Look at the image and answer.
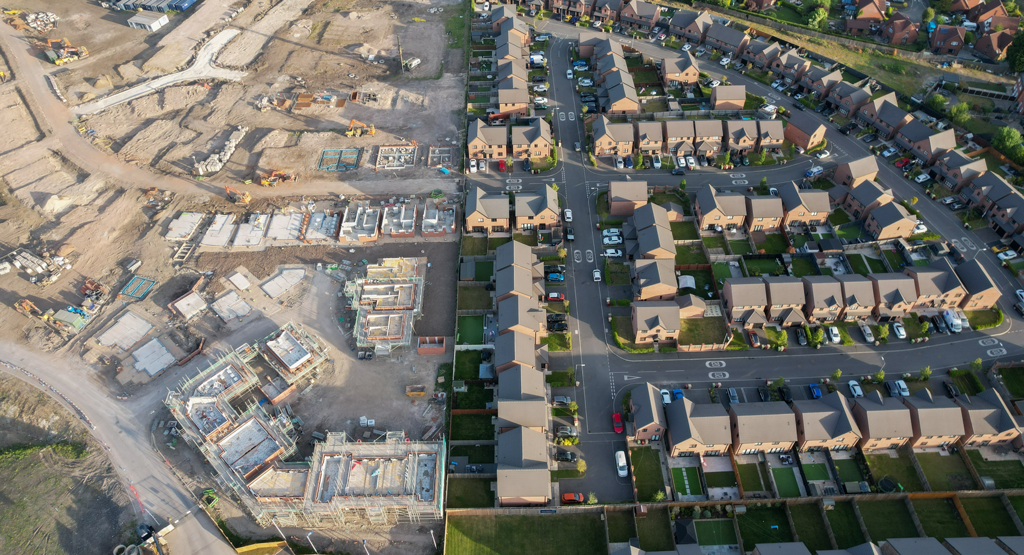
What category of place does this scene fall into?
residential area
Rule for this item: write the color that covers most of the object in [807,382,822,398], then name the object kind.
blue car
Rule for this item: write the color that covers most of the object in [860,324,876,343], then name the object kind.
gray vehicle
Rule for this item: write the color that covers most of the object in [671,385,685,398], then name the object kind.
blue vehicle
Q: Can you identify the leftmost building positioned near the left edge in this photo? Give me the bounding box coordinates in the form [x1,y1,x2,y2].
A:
[51,307,85,332]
